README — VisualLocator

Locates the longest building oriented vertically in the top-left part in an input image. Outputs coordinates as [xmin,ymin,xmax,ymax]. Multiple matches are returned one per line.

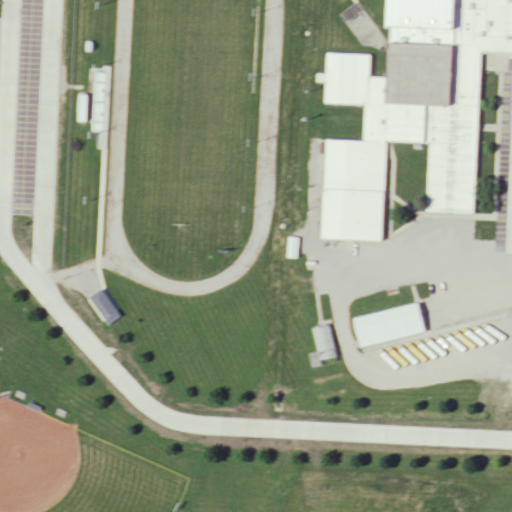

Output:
[76,92,90,123]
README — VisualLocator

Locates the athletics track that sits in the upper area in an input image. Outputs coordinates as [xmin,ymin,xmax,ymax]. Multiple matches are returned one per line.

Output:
[105,0,286,297]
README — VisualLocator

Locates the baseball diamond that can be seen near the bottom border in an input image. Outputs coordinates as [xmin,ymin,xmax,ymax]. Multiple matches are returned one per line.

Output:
[0,400,188,512]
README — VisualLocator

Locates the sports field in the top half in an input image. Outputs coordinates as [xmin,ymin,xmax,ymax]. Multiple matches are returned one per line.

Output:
[123,0,266,281]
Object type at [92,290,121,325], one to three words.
shed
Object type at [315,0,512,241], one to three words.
building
